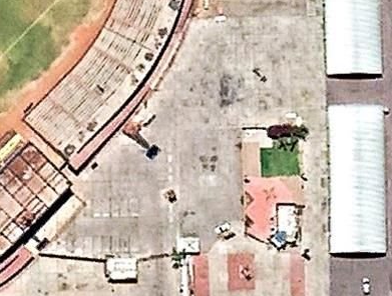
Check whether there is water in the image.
No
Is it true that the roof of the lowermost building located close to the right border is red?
No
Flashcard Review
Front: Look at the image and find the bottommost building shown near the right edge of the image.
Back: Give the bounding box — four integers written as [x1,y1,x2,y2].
[327,104,386,253]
